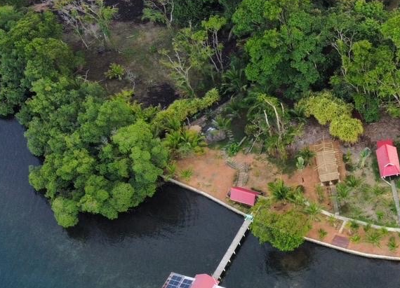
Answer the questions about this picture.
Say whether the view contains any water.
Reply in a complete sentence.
Yes, there's water in this view.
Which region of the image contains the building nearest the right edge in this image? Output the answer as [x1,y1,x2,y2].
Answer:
[377,142,400,187]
